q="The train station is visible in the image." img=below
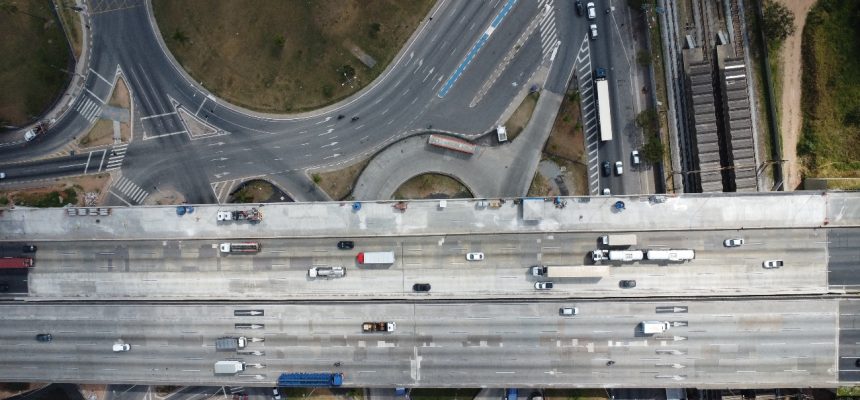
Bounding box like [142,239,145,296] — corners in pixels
[680,31,757,194]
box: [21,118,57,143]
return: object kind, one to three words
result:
truck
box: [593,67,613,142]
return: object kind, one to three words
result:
vehicle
